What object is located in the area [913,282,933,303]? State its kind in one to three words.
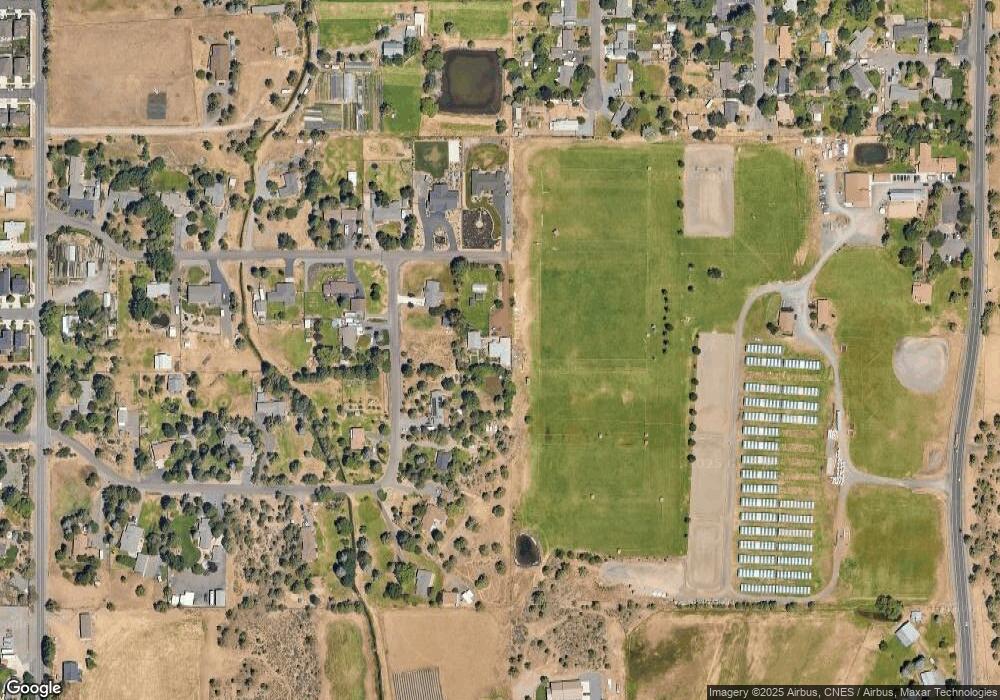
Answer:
building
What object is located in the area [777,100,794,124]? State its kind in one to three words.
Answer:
house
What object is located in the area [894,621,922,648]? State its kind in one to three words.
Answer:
barn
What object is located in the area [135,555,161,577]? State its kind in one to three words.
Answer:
house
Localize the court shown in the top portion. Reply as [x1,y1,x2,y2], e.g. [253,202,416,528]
[147,93,166,119]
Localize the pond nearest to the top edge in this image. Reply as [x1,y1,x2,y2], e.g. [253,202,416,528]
[447,55,496,105]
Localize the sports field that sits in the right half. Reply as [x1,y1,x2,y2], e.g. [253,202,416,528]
[520,146,806,555]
